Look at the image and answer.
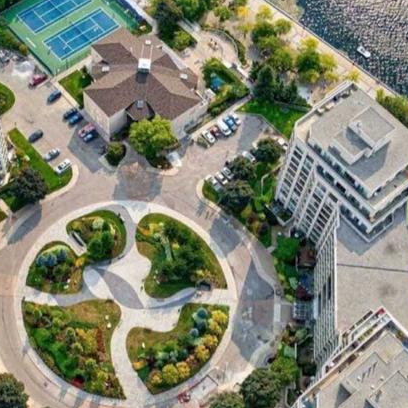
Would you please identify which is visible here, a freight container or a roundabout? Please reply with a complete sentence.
The one in the frame is a roundabout.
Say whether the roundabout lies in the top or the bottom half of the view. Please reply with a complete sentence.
The roundabout sits in the bottom half of the picture.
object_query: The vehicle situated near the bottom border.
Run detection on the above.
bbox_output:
[171,391,191,404]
